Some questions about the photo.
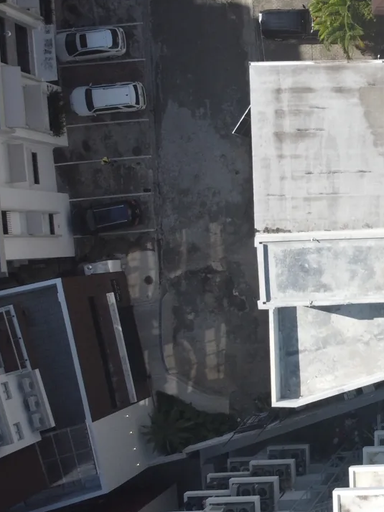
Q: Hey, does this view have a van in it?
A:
Yes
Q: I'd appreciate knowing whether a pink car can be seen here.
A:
No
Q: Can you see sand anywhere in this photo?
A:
No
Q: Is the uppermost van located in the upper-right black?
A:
Yes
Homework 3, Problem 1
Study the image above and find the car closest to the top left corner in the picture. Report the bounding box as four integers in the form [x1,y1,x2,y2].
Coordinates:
[57,26,131,62]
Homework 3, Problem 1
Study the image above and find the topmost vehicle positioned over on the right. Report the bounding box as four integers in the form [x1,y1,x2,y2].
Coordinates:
[255,6,317,41]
